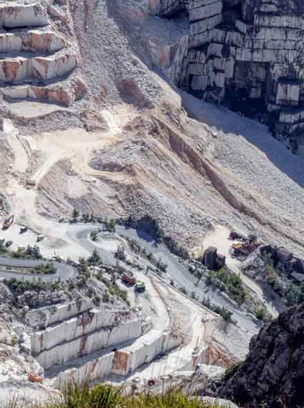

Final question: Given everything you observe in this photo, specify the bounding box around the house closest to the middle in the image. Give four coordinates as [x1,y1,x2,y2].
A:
[201,244,230,273]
